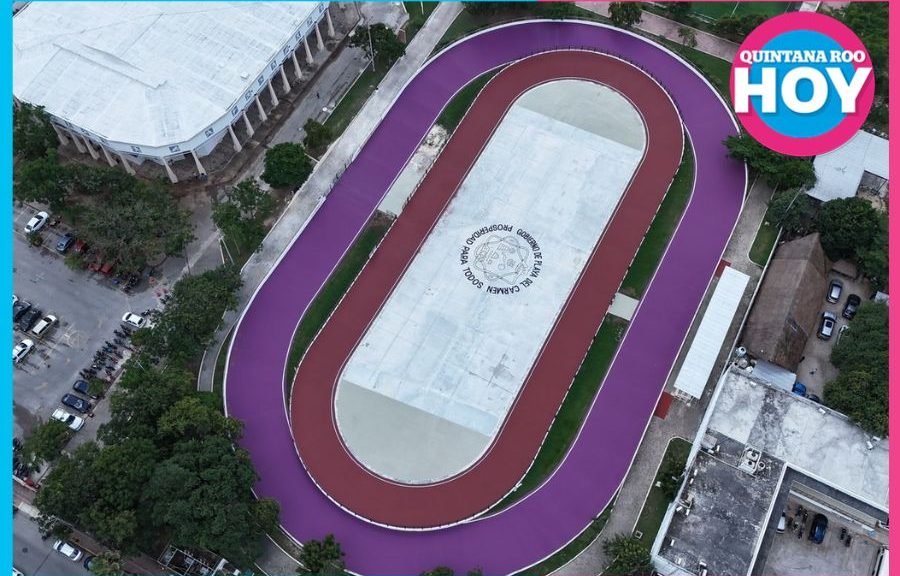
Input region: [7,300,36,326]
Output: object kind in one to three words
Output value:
car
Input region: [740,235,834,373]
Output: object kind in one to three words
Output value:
building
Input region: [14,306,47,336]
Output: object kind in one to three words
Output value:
vehicle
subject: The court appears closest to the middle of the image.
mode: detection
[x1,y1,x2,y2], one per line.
[333,78,646,484]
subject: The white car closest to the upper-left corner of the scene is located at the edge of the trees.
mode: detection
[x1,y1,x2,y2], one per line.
[23,212,51,234]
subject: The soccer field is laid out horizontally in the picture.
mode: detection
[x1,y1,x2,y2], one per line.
[691,0,797,38]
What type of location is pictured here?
sports ground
